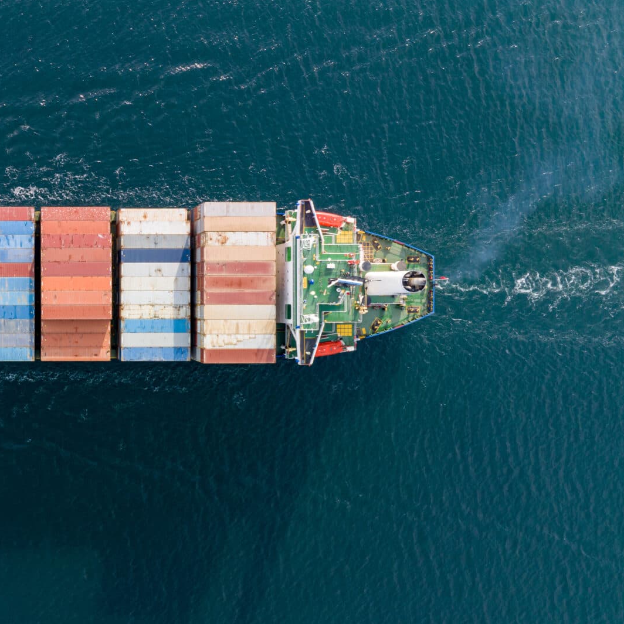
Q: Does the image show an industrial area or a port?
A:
port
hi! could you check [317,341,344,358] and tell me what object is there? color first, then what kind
red boat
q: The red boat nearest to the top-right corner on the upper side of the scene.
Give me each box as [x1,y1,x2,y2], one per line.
[318,212,344,229]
